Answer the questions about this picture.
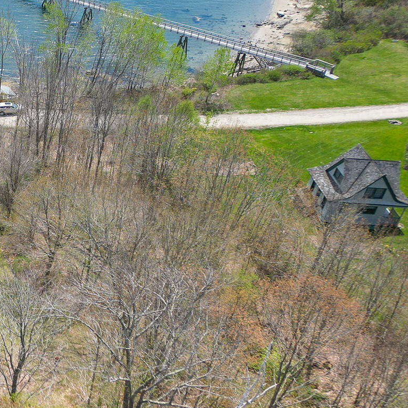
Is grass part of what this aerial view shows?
Yes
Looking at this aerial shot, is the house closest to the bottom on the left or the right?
right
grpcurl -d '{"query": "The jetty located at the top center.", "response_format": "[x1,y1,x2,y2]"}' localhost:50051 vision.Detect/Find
[44,0,347,83]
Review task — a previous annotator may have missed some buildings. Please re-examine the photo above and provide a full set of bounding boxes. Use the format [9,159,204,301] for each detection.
[0,82,19,103]
[304,143,408,228]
